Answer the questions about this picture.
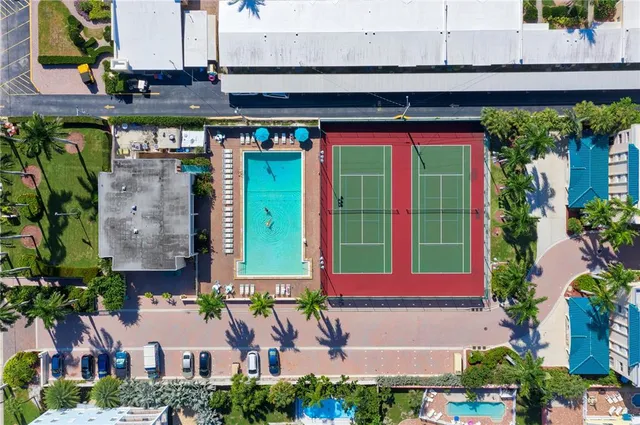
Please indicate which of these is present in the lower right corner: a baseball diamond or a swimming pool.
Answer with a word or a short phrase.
swimming pool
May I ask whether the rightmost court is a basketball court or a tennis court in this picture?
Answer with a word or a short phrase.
tennis court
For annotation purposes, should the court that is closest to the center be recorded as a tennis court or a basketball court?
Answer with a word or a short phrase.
tennis court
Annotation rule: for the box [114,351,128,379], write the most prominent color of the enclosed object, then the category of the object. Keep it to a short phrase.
blue vehicle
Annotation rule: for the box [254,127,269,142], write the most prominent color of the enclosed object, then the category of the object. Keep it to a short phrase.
blue umbrella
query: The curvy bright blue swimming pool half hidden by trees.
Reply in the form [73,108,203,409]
[302,396,356,419]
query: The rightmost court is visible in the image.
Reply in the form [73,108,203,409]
[407,145,478,273]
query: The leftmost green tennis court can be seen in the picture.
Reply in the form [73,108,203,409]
[328,145,398,273]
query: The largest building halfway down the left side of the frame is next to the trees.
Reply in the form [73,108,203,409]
[99,159,198,270]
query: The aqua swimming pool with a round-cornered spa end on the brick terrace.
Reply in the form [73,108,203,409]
[446,401,506,422]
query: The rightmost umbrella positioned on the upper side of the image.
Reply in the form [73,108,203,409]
[294,127,309,142]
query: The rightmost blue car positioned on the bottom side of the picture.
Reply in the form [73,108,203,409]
[268,348,281,376]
